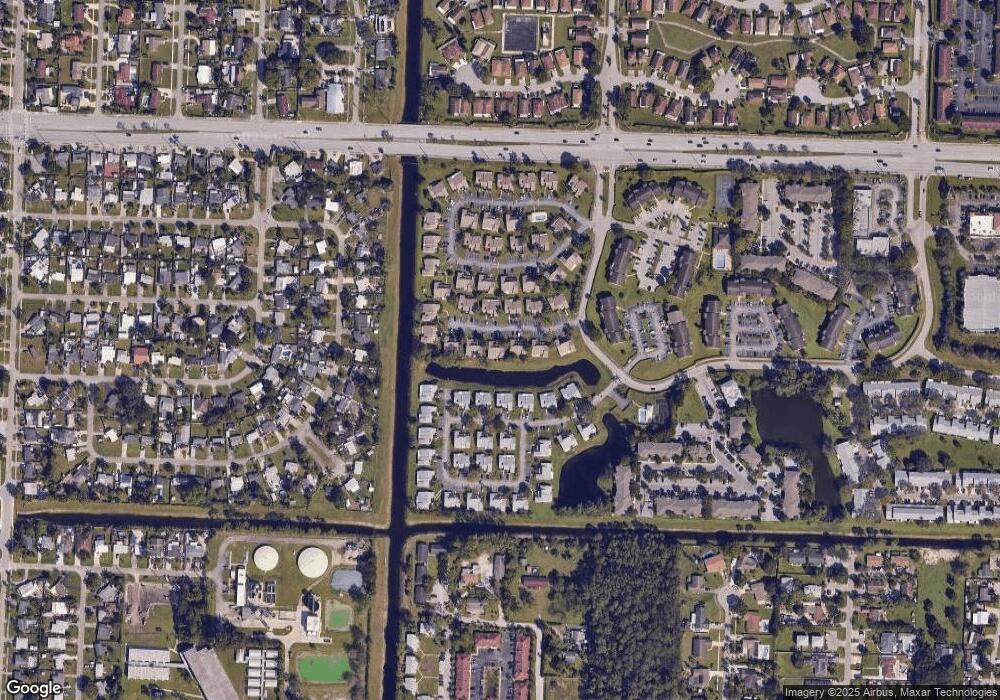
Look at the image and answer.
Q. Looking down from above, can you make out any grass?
Yes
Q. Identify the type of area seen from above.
residential area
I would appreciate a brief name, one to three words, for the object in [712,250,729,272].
swimming pool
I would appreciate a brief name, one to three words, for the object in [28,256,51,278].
house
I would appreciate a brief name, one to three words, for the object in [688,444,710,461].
building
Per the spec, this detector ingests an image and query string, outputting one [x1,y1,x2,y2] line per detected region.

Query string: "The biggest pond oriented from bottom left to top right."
[553,413,636,509]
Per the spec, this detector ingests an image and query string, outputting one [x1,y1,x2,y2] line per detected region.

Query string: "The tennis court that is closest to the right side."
[716,175,733,210]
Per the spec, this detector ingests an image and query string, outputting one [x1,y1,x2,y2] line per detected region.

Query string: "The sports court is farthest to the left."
[503,14,538,53]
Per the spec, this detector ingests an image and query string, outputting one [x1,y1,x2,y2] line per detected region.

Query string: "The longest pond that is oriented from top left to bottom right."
[752,389,843,514]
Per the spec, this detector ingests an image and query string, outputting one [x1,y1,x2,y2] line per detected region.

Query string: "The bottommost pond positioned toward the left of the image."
[297,653,354,684]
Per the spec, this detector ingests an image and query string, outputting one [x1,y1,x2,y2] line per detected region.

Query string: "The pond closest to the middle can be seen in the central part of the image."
[427,359,601,387]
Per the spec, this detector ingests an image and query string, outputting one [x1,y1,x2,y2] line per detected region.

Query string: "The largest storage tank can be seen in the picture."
[297,547,328,579]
